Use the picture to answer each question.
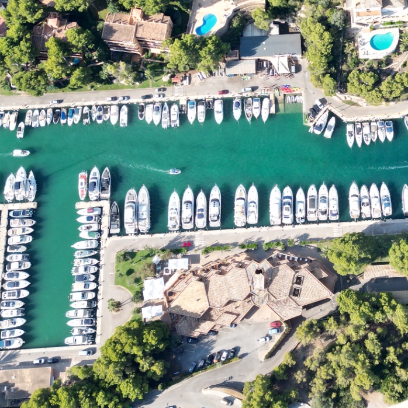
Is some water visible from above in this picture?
Yes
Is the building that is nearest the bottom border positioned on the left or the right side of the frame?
left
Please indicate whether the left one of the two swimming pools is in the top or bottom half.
top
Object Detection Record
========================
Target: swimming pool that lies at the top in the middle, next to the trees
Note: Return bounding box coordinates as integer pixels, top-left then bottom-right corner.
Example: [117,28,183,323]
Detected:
[196,11,218,33]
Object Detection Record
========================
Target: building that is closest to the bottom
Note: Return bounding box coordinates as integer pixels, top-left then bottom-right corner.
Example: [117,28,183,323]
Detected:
[0,367,55,405]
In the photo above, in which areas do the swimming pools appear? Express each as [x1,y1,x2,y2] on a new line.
[196,11,218,33]
[369,31,394,51]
